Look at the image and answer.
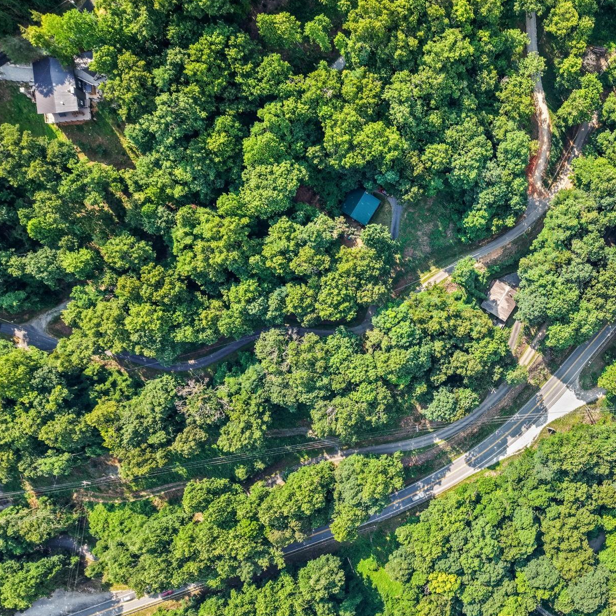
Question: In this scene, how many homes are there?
3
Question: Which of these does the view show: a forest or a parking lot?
forest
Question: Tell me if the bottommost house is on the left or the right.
right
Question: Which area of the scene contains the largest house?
top left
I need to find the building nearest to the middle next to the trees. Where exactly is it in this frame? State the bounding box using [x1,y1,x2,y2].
[342,189,381,226]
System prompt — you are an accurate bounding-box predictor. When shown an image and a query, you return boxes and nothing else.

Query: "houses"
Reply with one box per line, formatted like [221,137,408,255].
[481,280,520,330]
[342,189,381,226]
[20,57,104,125]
